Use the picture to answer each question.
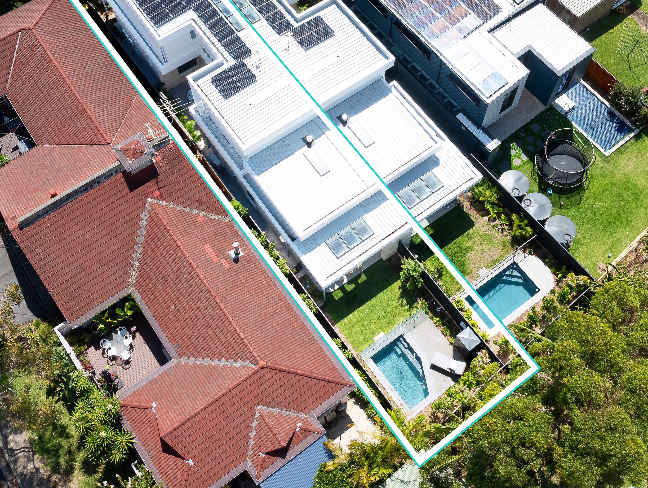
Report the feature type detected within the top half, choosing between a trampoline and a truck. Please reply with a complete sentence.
What appears within the top half is a trampoline.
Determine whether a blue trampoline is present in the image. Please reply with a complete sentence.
No, the photo shows no blue trampoline.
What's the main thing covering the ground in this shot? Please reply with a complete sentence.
Most of the picture is covered by buildings.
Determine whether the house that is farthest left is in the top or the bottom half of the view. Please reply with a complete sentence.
It is in the top half that the house that is farthest left appears.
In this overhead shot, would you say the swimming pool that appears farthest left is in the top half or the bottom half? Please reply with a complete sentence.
The swimming pool that appears farthest left is in the bottom half of the image.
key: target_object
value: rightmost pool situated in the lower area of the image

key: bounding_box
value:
[457,255,547,335]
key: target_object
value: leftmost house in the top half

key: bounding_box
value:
[0,0,172,231]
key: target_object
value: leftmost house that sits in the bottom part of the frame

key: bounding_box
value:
[20,140,355,488]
